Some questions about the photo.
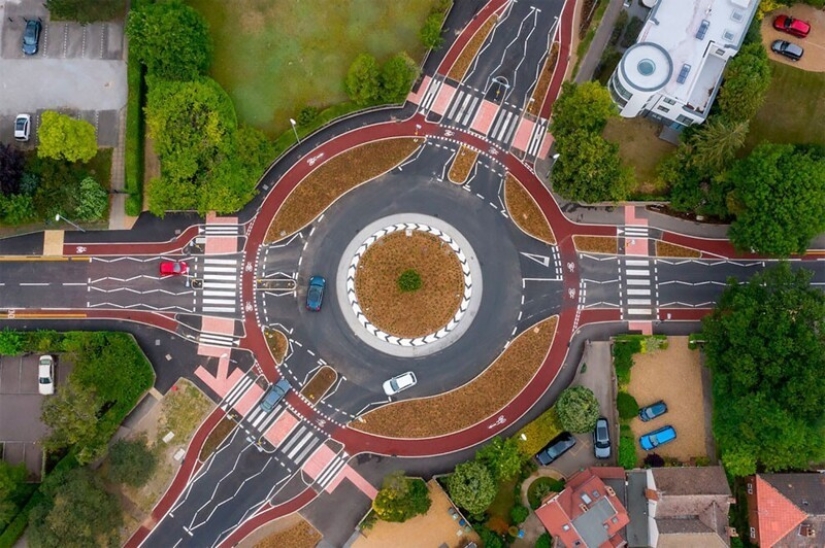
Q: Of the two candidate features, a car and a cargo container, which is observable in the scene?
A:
car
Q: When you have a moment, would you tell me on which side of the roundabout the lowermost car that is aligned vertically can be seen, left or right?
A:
right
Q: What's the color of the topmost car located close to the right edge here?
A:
red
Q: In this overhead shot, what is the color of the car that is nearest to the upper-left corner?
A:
blue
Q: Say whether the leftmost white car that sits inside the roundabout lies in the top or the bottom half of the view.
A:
bottom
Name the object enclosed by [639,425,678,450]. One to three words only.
car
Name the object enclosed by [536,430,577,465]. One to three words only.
car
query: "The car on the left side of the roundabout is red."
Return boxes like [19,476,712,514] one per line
[159,259,189,276]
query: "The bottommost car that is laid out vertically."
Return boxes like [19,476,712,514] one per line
[592,417,612,458]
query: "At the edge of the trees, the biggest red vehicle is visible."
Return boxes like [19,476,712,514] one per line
[771,15,811,37]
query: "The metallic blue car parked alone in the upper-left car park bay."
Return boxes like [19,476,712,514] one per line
[21,20,43,56]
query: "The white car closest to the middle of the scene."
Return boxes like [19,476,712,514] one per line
[381,372,418,395]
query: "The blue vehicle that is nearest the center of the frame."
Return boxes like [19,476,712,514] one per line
[306,276,325,311]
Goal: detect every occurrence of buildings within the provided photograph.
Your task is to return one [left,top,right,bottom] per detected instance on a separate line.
[531,469,631,548]
[641,467,739,548]
[744,473,825,548]
[606,0,764,135]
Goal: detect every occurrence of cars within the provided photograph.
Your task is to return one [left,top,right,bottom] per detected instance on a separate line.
[636,399,670,423]
[639,425,678,450]
[256,377,292,414]
[536,430,577,465]
[771,15,811,37]
[770,39,804,60]
[36,355,57,393]
[592,417,612,458]
[13,114,32,143]
[306,276,325,311]
[381,372,418,395]
[159,259,189,276]
[21,20,43,56]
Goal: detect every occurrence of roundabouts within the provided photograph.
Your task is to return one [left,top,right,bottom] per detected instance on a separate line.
[239,120,587,457]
